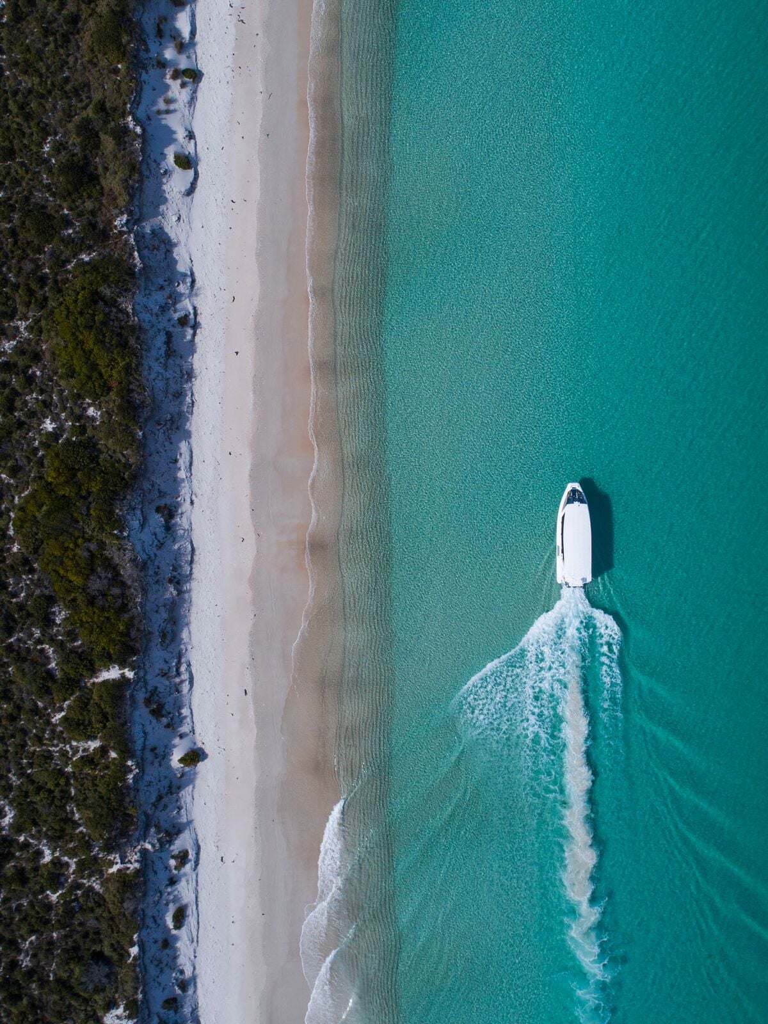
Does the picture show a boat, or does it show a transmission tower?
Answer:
boat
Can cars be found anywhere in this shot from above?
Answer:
No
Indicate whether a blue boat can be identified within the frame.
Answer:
No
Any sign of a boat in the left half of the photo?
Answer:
No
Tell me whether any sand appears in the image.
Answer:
Yes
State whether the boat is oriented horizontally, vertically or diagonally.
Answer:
vertically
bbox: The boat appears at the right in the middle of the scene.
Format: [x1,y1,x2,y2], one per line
[556,482,592,588]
